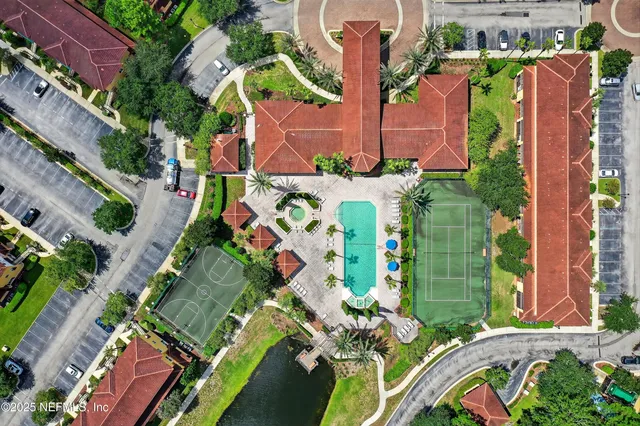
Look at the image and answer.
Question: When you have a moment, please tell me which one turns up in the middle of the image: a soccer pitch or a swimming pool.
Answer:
swimming pool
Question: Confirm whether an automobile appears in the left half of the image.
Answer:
Yes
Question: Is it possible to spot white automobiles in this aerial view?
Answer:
Yes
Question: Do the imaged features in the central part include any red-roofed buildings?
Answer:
Yes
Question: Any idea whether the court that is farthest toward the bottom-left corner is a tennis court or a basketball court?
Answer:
basketball court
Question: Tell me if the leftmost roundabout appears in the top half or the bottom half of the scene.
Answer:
top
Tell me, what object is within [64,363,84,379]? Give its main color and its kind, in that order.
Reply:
white car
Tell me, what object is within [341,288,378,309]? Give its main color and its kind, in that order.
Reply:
white fountain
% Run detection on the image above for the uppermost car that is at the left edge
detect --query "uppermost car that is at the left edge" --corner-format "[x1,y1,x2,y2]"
[32,79,49,98]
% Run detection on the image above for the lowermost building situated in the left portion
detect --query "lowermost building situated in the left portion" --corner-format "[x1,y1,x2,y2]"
[62,329,188,426]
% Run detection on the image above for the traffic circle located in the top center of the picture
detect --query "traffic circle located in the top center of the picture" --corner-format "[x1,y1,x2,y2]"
[294,0,428,77]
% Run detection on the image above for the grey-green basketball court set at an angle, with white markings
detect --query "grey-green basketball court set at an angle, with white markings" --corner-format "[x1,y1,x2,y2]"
[150,239,250,347]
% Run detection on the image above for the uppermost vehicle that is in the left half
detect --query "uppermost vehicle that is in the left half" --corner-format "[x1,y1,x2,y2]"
[212,58,229,76]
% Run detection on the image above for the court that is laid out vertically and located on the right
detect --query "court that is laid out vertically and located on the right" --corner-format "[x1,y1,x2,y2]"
[416,181,488,328]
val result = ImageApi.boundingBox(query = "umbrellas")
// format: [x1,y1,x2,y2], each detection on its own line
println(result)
[387,260,399,272]
[386,239,398,250]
